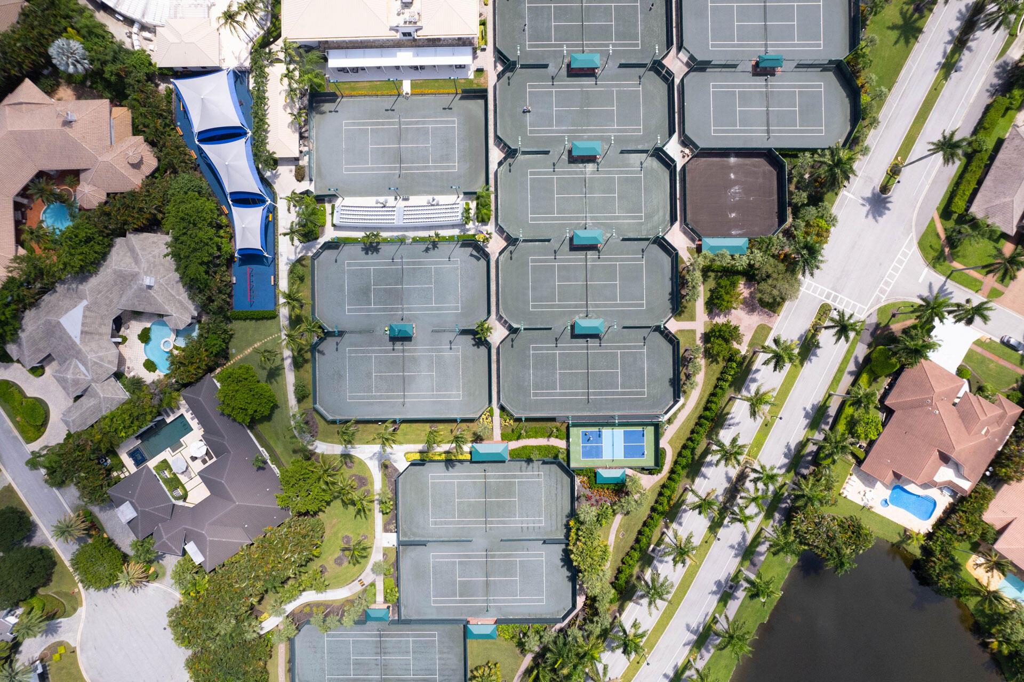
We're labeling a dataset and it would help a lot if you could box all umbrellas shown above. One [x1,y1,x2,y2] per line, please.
[172,457,188,472]
[191,440,208,456]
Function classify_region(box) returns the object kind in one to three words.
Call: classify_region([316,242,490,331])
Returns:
tennis court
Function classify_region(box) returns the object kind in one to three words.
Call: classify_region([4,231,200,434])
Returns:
house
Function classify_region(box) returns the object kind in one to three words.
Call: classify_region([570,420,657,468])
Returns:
sports court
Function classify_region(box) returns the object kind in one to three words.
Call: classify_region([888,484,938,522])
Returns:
swimming pool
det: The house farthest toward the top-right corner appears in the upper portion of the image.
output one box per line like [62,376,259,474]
[964,114,1024,236]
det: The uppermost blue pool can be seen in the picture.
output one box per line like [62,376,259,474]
[40,195,80,234]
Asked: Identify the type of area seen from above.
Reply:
residential area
